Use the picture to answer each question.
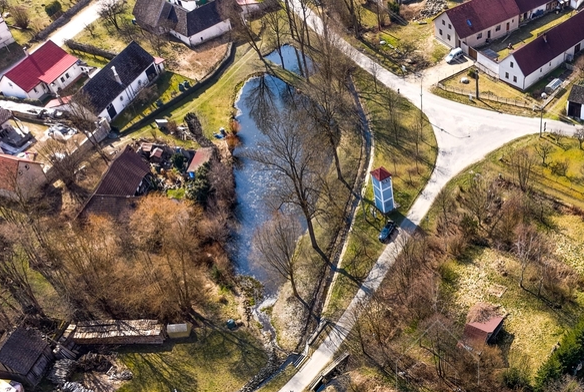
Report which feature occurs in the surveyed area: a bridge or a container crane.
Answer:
bridge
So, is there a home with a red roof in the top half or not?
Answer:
Yes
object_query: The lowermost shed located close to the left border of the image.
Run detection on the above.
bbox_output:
[0,325,55,383]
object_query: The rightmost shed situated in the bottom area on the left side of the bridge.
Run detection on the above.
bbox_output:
[167,322,191,339]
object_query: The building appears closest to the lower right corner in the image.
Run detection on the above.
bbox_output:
[464,303,503,351]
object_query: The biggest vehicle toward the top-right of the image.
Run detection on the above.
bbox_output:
[444,43,464,59]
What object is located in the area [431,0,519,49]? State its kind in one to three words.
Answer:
house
